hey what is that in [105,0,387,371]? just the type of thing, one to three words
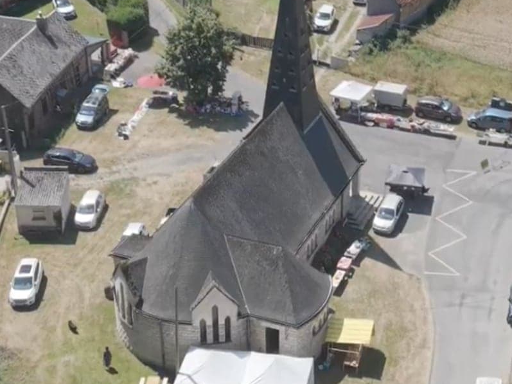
church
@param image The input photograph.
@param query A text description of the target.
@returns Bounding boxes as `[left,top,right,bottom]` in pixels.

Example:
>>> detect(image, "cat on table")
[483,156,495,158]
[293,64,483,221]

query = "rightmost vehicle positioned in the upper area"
[469,106,512,133]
